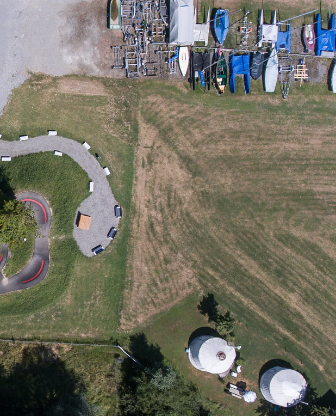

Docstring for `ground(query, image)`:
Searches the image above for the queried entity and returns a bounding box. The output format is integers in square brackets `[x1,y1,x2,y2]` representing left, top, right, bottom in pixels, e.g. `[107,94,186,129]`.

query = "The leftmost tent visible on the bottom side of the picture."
[188,334,241,376]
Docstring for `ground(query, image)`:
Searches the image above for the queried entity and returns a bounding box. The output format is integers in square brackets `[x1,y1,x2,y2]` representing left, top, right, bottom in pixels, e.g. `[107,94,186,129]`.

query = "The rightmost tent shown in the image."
[260,365,312,408]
